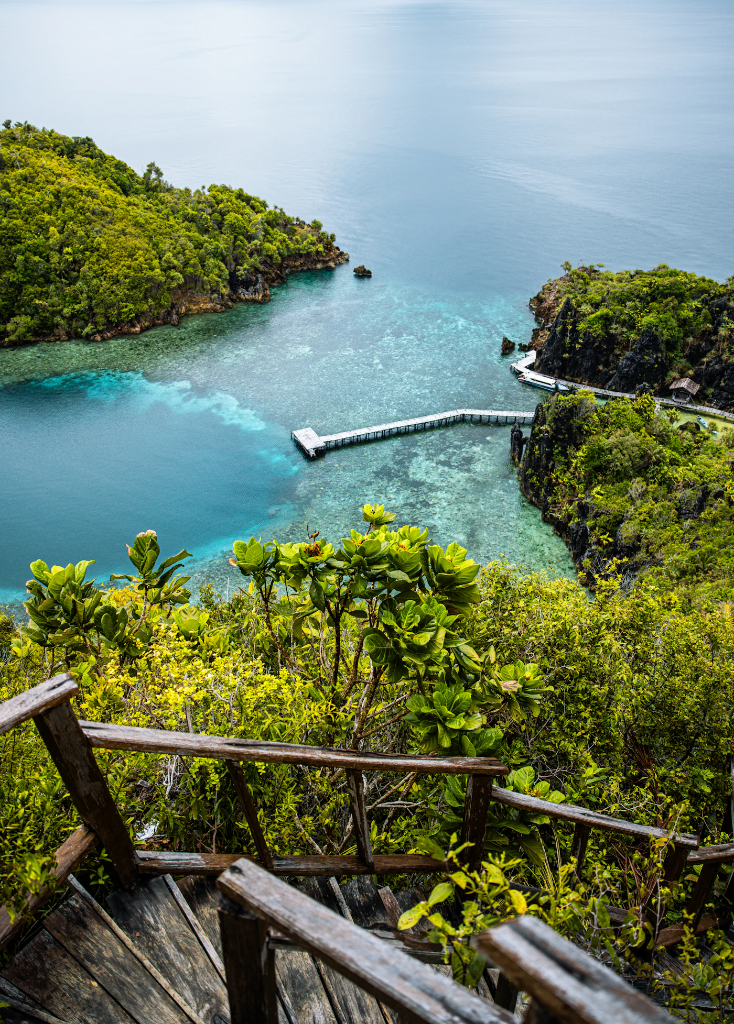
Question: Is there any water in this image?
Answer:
Yes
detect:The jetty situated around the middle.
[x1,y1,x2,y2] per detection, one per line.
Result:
[292,410,537,458]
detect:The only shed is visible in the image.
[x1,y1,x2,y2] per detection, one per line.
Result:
[667,378,700,408]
